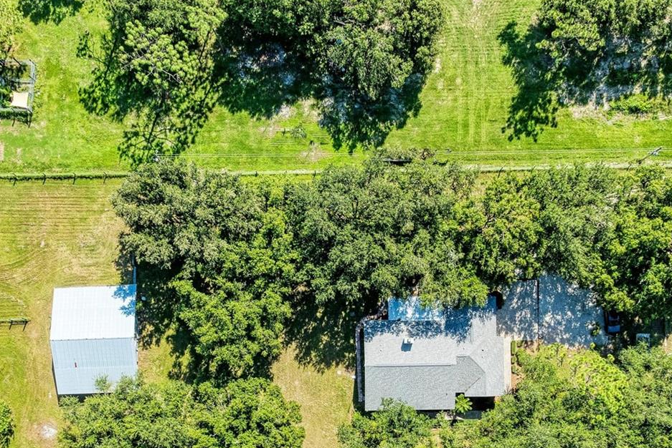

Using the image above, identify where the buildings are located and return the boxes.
[50,284,139,396]
[364,296,505,412]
